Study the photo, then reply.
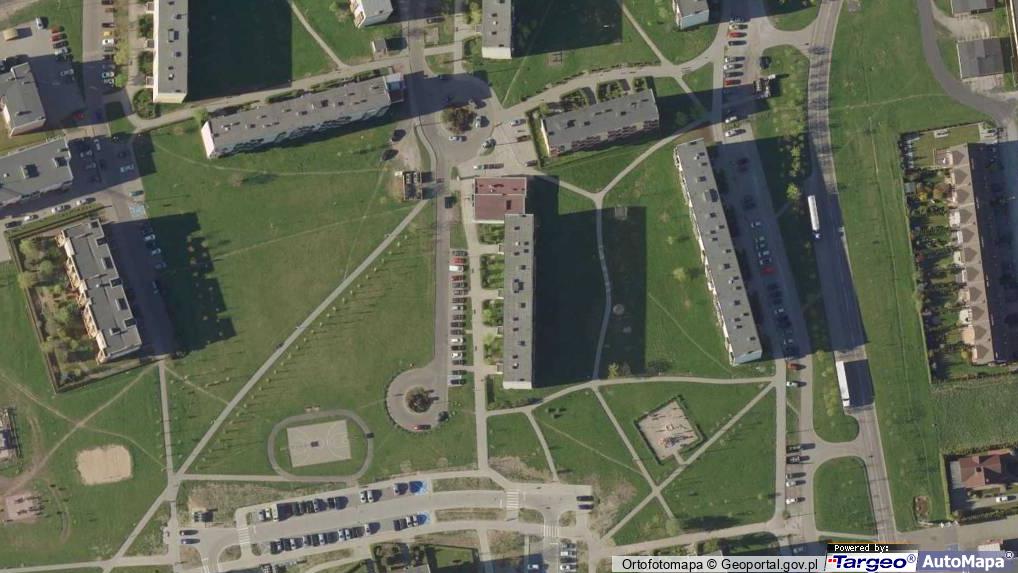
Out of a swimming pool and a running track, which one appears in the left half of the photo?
running track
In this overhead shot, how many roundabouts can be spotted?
2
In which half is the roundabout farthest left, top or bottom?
bottom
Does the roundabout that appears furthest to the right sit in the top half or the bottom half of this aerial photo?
top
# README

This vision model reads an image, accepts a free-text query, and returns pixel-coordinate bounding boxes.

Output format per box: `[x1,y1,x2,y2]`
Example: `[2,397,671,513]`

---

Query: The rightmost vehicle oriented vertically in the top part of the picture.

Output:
[808,194,821,239]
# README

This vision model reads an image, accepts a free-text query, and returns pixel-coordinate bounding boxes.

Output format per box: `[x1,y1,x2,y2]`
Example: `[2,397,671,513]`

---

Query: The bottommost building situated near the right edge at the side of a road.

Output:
[978,539,1007,572]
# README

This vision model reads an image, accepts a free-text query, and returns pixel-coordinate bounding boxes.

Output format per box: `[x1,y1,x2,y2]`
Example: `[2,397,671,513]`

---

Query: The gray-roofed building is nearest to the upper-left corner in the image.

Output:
[0,64,45,134]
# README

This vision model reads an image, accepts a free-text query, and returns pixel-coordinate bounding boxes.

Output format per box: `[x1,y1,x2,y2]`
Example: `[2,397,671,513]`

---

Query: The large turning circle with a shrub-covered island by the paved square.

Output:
[419,74,503,166]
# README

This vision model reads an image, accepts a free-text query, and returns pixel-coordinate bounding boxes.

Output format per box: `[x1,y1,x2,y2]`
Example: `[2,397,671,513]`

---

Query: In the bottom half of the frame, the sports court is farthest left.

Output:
[77,445,132,484]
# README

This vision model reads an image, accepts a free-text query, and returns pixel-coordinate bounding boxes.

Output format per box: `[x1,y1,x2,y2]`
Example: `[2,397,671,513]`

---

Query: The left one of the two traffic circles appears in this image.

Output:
[387,360,448,432]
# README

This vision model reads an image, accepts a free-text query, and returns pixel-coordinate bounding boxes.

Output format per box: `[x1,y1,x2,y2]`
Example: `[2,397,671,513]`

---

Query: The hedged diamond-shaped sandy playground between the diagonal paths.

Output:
[637,399,698,459]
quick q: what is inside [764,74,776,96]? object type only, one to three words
vehicle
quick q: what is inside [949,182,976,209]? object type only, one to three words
house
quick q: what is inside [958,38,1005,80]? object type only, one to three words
building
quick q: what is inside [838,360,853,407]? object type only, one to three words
vehicle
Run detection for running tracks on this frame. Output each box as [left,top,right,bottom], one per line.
[268,409,374,482]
